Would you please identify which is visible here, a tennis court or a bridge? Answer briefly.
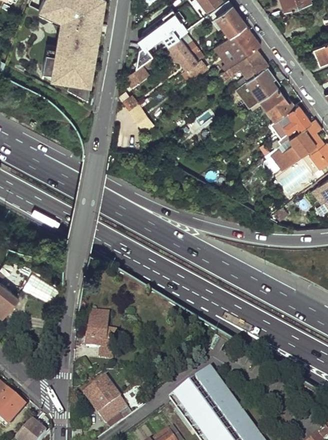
bridge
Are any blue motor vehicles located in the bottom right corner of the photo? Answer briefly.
No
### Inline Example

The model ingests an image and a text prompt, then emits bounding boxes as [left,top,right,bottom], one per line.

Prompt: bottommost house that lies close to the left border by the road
[15,416,46,440]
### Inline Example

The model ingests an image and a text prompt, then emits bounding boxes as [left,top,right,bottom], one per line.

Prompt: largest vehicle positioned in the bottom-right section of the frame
[224,312,256,334]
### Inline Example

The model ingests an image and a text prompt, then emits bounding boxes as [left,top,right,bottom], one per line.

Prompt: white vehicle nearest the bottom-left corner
[44,384,66,415]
